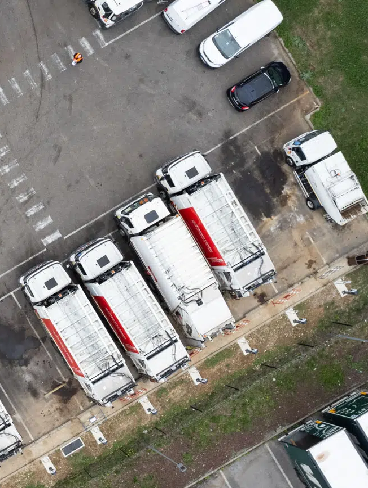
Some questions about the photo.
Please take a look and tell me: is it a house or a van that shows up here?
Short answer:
van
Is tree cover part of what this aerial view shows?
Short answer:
No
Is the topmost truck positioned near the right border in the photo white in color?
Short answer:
Yes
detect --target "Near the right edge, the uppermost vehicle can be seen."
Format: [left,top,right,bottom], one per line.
[277,121,368,230]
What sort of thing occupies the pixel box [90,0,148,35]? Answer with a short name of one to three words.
truck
